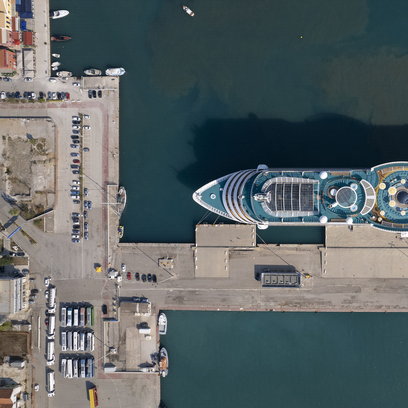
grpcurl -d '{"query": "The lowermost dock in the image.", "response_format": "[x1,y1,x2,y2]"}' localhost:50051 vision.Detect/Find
[119,242,408,353]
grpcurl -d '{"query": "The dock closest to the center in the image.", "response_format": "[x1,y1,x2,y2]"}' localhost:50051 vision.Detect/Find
[195,225,257,246]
